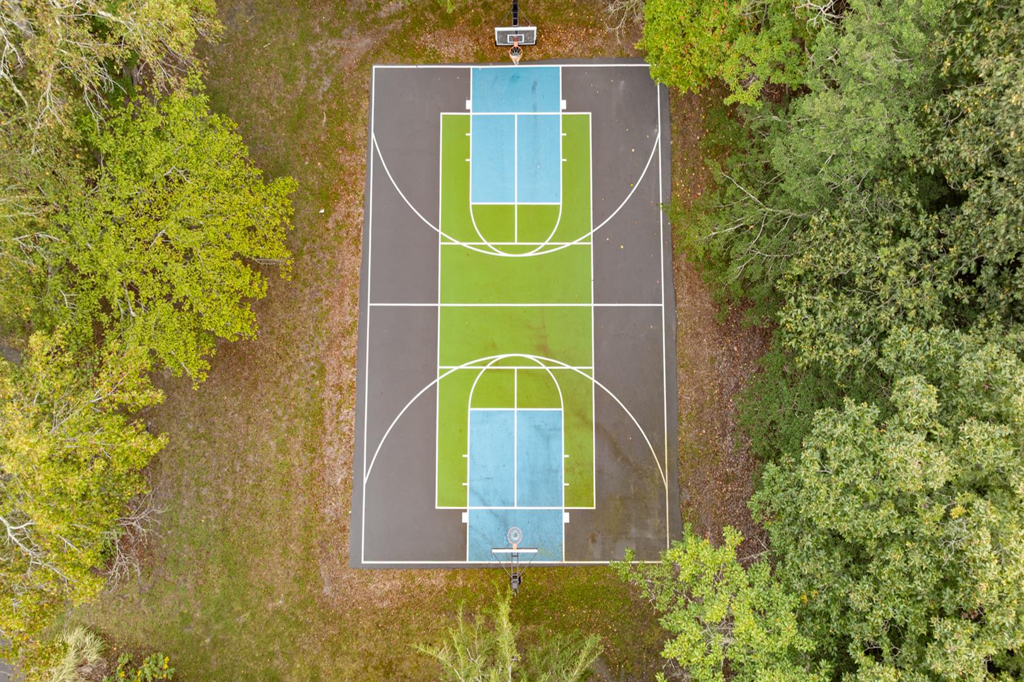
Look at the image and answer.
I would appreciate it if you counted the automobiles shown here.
none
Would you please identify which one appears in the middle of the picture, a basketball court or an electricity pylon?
basketball court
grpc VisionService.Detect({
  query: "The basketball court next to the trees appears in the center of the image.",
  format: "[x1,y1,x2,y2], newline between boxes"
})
[349,57,682,570]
